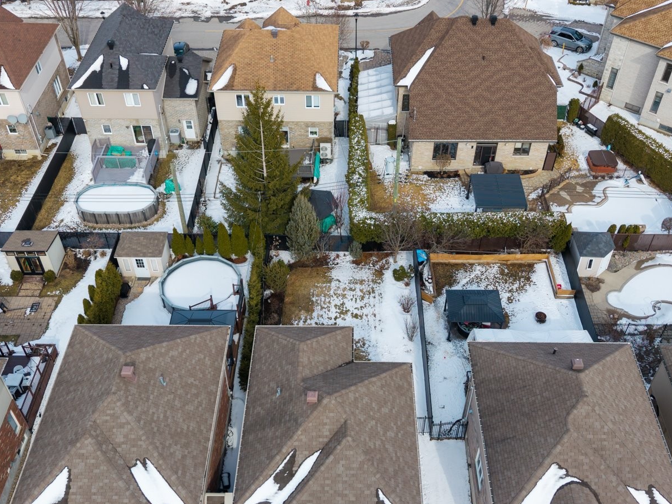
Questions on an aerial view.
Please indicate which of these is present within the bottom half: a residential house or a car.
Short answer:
residential house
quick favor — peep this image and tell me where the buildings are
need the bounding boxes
[571,232,616,277]
[389,8,563,172]
[70,3,209,159]
[13,325,236,504]
[590,0,672,133]
[114,230,169,277]
[460,342,672,504]
[233,326,425,504]
[1,231,63,274]
[0,4,71,159]
[208,5,339,160]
